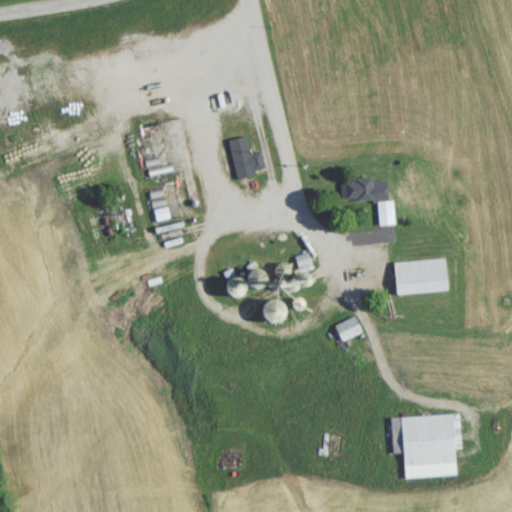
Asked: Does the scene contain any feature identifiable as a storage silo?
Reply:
Yes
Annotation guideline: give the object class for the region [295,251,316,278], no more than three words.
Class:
shed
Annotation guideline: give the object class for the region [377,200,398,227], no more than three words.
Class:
building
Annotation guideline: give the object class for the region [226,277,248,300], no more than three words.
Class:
silo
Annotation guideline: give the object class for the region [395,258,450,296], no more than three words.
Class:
barn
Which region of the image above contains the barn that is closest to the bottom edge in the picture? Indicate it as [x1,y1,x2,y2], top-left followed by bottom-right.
[392,414,464,480]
